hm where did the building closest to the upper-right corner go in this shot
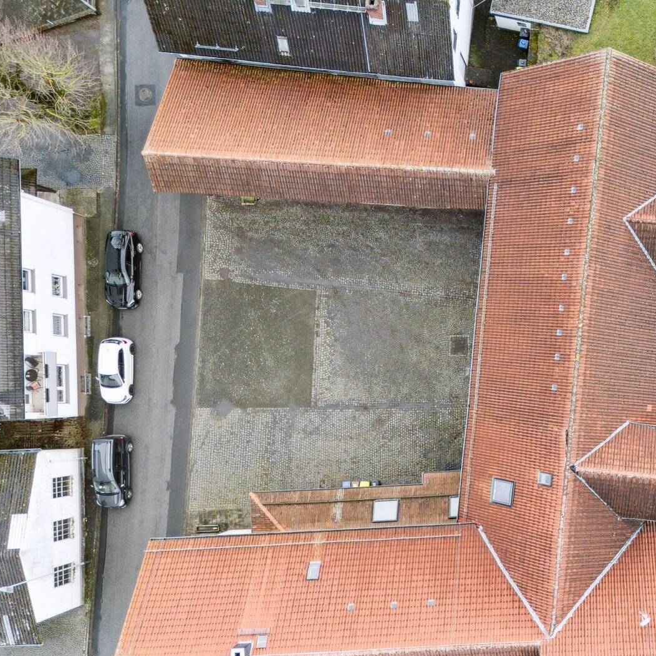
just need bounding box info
[490,0,596,43]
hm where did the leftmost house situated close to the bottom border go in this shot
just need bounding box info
[0,447,84,647]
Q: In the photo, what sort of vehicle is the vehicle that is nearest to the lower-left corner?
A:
car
